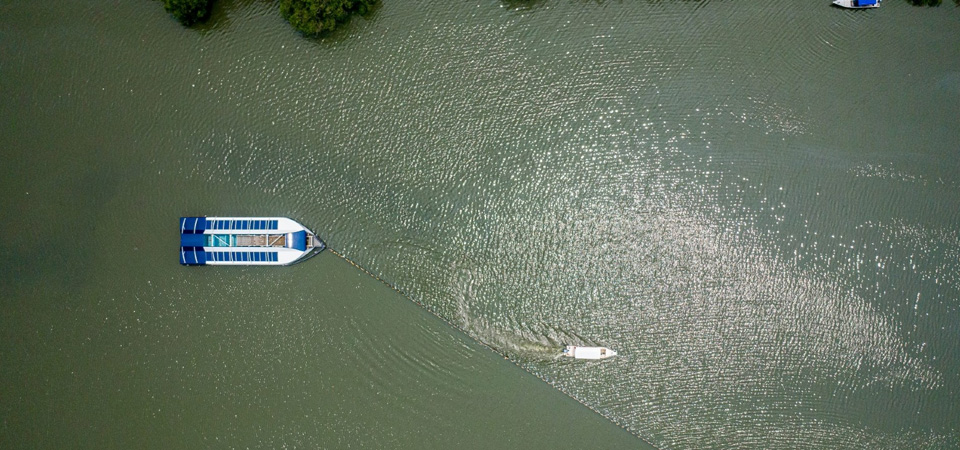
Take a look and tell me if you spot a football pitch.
No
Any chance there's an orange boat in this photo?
No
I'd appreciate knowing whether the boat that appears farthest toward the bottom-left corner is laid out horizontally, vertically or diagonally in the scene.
horizontally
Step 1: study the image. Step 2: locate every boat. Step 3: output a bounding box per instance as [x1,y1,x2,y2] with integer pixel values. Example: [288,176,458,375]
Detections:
[564,346,617,359]
[178,216,325,266]
[832,0,880,8]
